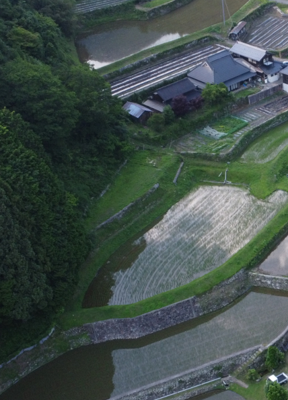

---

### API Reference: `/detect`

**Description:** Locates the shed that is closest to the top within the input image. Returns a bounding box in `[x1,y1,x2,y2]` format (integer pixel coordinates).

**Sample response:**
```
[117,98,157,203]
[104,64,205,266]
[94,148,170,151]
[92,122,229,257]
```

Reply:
[227,19,247,47]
